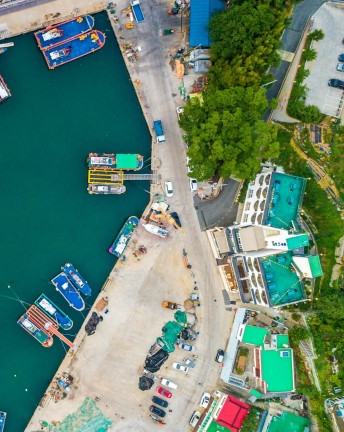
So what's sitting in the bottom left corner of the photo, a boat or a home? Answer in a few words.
boat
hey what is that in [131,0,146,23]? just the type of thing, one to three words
vehicle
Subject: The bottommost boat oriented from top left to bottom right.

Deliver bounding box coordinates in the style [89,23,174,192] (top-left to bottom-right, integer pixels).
[17,314,52,348]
